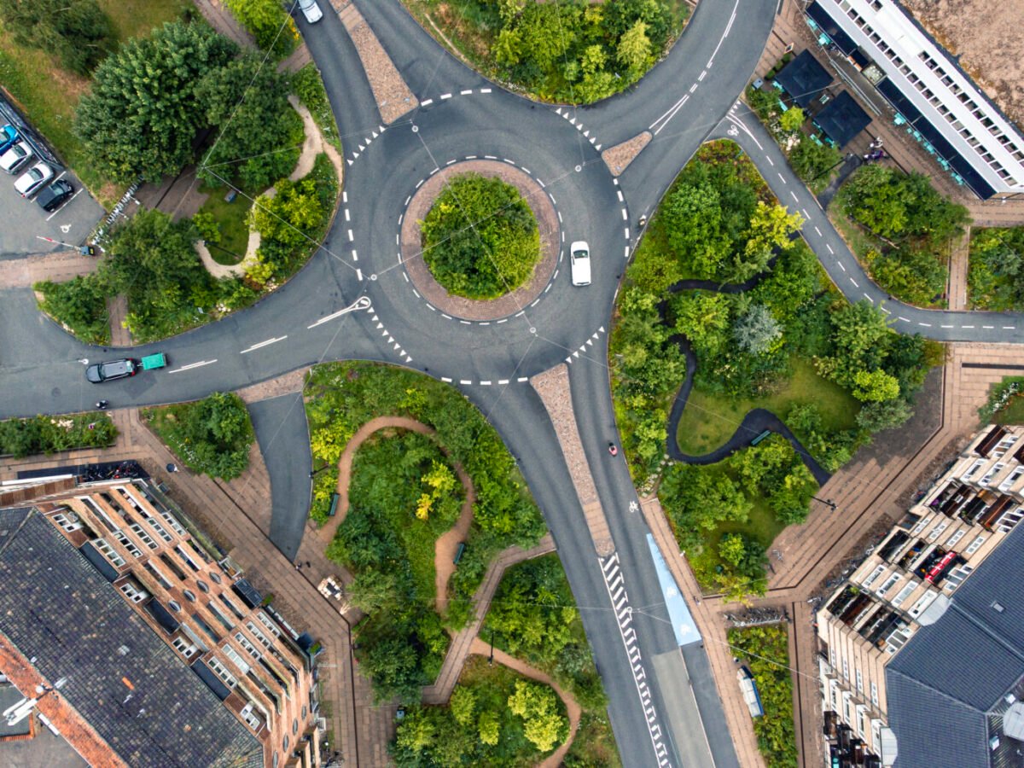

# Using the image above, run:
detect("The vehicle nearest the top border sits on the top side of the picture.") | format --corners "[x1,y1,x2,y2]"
[294,0,322,25]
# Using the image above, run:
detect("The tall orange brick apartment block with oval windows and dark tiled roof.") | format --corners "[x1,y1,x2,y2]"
[0,465,346,768]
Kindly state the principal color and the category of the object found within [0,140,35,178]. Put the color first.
white car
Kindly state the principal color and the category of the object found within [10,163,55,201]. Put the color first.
white car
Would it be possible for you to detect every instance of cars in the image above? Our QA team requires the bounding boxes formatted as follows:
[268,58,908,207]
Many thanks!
[10,163,55,201]
[0,122,23,155]
[570,242,592,286]
[87,358,137,382]
[33,178,75,214]
[0,140,35,178]
[294,0,322,25]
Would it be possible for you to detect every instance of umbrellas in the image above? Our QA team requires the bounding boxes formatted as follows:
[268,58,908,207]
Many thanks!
[811,88,873,151]
[772,48,835,110]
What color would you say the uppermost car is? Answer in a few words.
white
